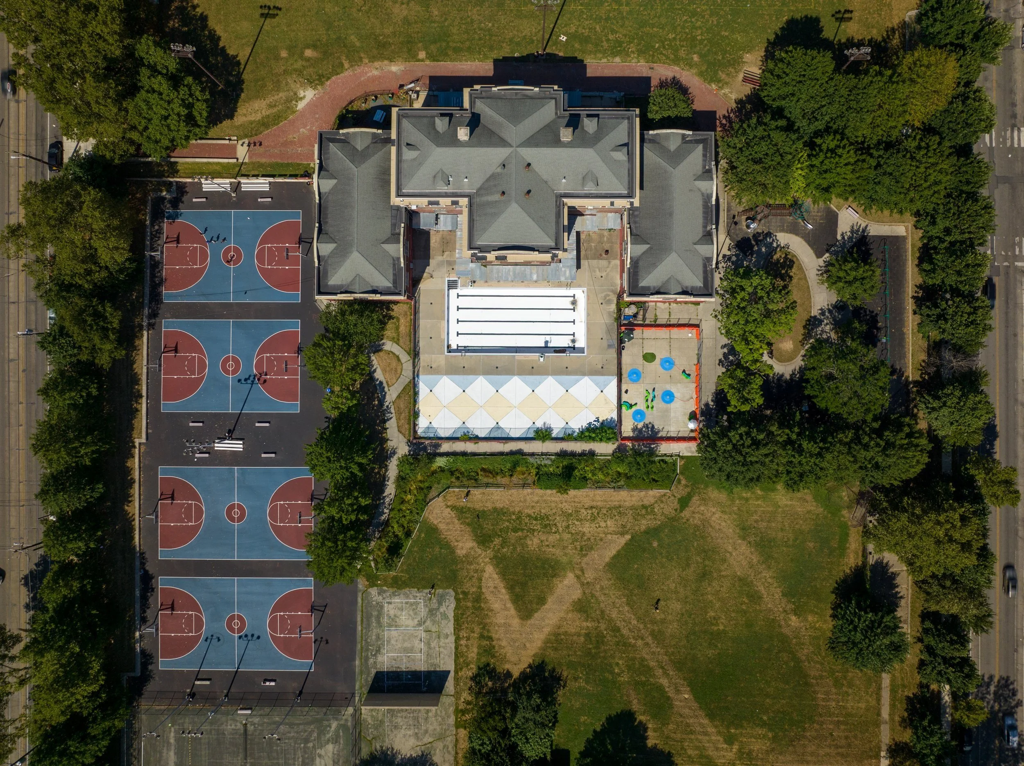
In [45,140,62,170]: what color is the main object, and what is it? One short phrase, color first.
black car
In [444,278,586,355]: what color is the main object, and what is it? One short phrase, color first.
white swimming pool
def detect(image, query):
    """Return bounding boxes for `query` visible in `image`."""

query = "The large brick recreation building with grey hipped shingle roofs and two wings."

[313,82,718,304]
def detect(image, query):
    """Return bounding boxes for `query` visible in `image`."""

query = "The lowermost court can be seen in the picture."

[142,707,356,766]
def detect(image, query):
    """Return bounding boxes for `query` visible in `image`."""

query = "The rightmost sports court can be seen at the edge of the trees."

[358,579,455,766]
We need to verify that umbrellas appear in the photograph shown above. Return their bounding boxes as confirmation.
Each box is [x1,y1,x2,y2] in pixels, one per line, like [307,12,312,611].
[687,420,697,429]
[620,331,633,344]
